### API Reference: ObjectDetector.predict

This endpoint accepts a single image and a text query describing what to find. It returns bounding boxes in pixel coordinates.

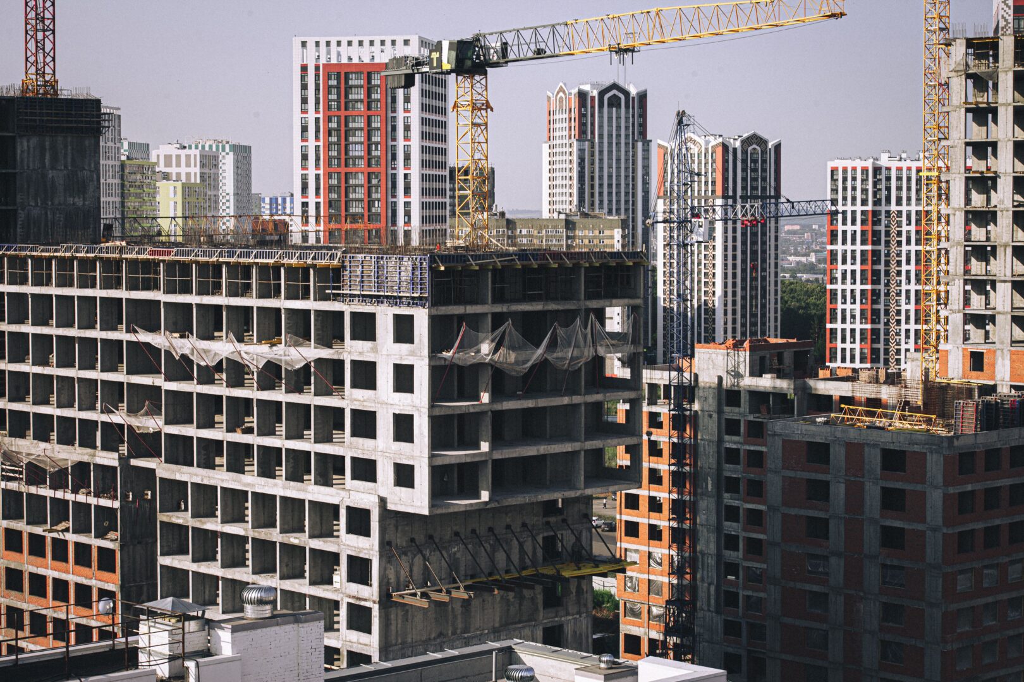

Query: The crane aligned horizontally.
[372,0,856,245]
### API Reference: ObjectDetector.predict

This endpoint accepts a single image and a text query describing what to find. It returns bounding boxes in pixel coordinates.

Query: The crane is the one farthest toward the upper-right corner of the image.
[920,0,974,413]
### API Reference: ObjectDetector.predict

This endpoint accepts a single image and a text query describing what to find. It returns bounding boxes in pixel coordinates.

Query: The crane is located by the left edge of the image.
[17,0,62,99]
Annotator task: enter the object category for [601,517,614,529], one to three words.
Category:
vehicle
